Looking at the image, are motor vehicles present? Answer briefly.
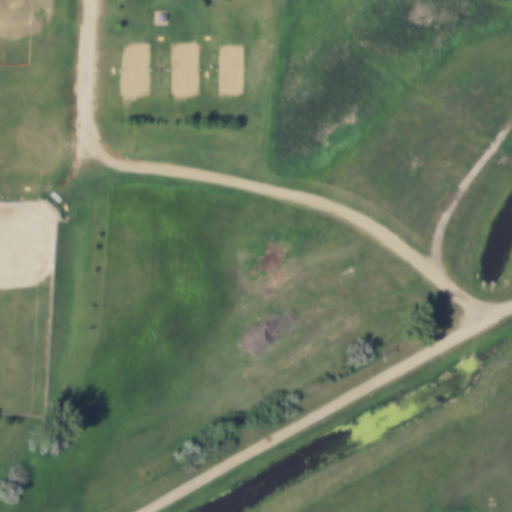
No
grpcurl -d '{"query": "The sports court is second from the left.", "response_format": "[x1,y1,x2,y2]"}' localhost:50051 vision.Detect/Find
[170,42,200,99]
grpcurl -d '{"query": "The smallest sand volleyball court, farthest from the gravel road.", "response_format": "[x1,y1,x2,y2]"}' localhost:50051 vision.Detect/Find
[218,45,244,96]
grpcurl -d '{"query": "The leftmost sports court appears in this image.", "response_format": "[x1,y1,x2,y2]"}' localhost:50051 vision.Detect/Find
[120,42,151,101]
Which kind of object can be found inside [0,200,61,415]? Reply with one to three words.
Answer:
baseball field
